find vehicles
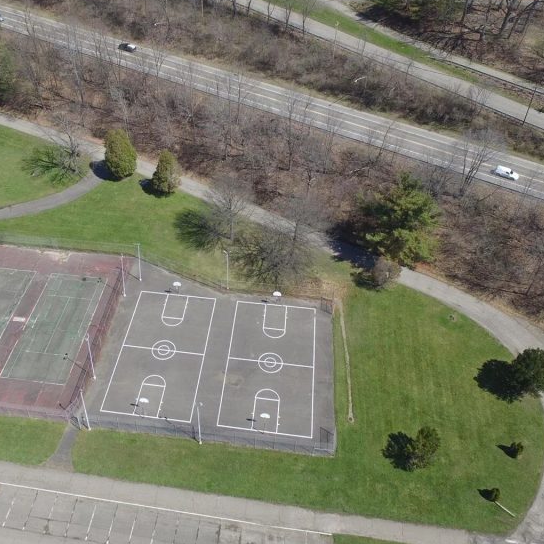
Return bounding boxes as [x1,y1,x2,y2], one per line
[492,162,521,182]
[118,43,137,52]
